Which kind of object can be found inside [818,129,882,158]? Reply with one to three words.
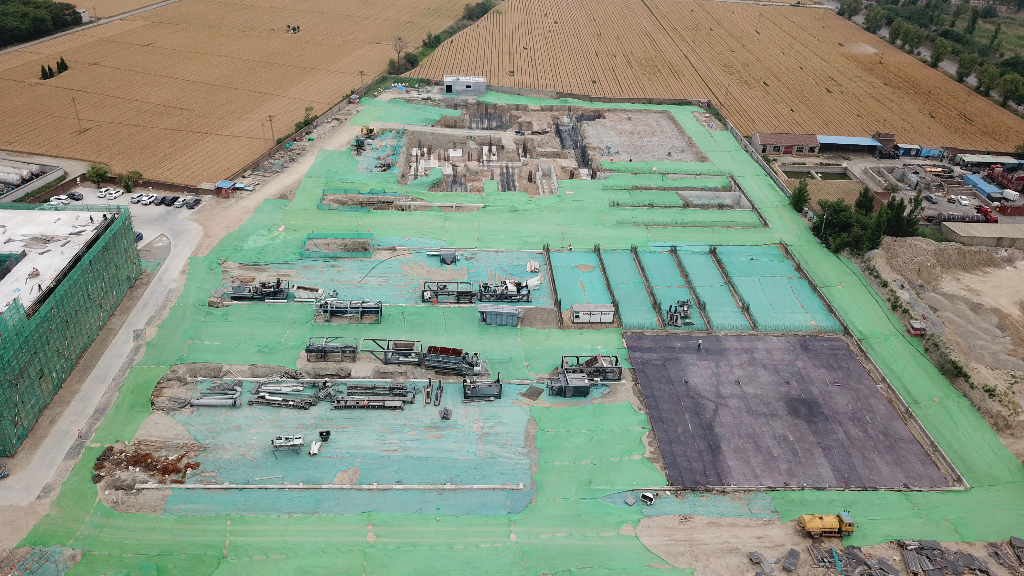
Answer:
shed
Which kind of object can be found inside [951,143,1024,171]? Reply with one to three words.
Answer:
shed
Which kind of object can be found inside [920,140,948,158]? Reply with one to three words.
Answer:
building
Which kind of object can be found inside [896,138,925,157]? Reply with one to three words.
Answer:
building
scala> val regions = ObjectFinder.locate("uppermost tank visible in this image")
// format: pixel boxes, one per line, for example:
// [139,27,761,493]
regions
[775,164,860,182]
